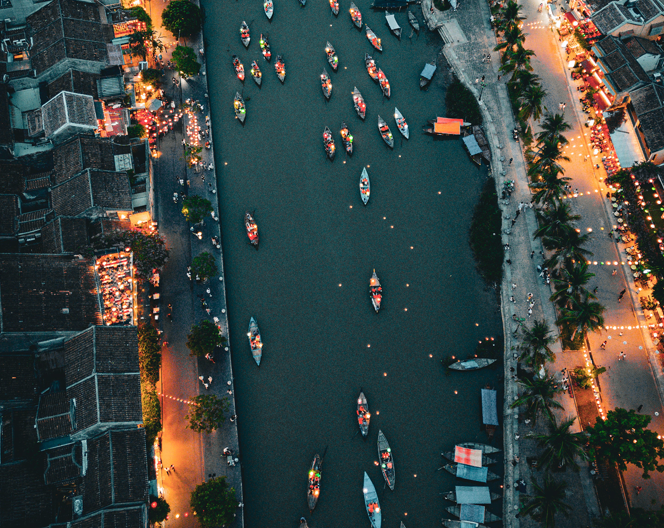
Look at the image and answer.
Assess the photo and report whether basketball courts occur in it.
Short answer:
No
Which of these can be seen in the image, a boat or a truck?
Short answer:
boat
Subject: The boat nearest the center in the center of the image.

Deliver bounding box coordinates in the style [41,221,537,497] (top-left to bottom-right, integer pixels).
[370,264,387,313]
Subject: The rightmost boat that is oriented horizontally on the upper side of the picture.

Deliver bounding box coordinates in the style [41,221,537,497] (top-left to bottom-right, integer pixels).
[423,118,472,135]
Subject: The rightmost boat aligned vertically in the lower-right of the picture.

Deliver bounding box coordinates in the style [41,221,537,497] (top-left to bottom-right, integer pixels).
[481,381,499,449]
